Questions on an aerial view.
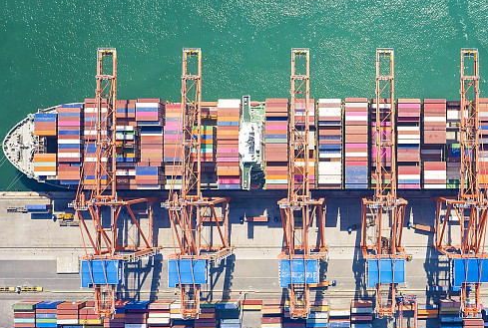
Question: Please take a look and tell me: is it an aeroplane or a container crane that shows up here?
container crane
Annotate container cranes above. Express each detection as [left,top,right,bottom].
[160,49,241,319]
[354,49,411,319]
[278,49,333,319]
[66,49,170,319]
[397,292,419,328]
[426,48,488,319]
